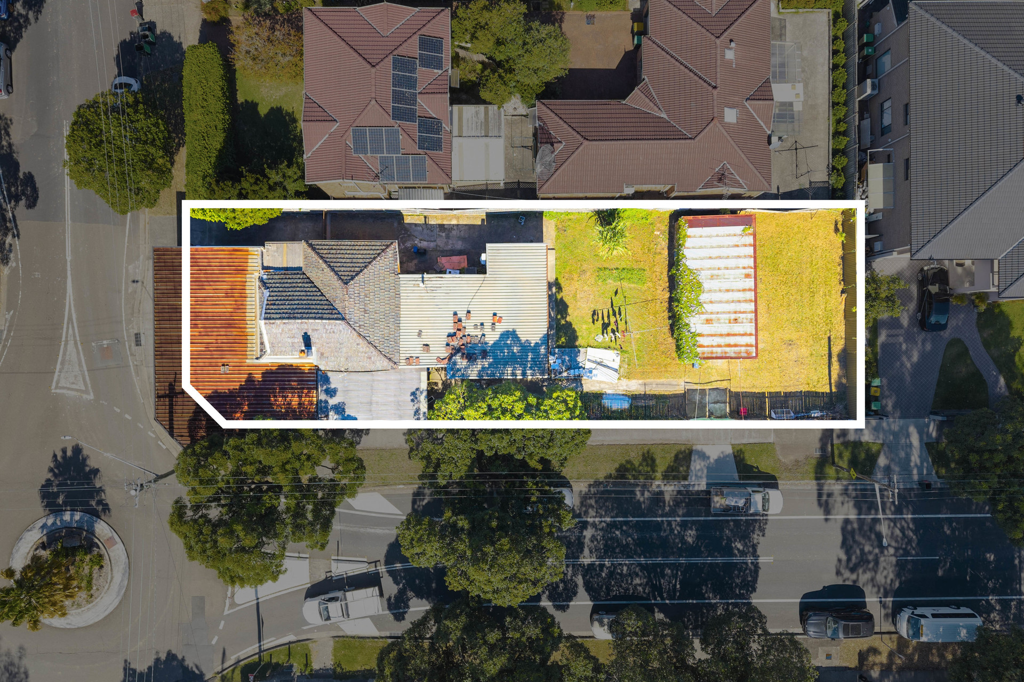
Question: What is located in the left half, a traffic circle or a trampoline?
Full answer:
What appears in the left half is a traffic circle.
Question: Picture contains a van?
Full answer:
Yes, you can see a van in this photo.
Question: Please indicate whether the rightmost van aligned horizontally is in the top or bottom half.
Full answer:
The rightmost van aligned horizontally sits in the bottom half of the picture.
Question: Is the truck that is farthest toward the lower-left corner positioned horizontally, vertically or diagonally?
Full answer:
Seen from above, the truck that is farthest toward the lower-left corner lies horizontally.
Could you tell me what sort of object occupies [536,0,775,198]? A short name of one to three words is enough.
house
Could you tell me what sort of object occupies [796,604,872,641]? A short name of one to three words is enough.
car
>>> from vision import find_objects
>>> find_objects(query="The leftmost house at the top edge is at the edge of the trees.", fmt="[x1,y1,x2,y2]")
[301,1,453,198]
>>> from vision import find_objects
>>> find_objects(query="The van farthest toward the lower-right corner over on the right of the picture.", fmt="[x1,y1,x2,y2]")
[889,603,985,641]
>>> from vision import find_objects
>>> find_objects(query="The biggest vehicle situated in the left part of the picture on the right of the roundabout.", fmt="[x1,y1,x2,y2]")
[302,582,386,624]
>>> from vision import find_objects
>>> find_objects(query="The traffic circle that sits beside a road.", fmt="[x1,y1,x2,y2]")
[10,510,129,629]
